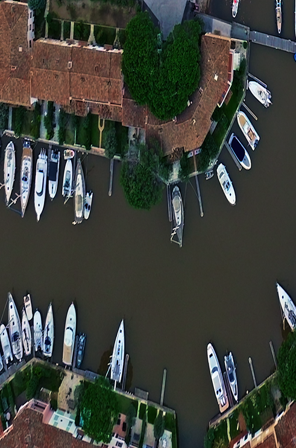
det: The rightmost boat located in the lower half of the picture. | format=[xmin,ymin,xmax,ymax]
[277,283,296,330]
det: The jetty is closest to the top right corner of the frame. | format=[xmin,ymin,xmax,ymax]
[249,28,296,53]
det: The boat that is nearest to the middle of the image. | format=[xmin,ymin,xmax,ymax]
[168,184,185,248]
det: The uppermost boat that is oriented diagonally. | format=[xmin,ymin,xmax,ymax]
[249,79,271,111]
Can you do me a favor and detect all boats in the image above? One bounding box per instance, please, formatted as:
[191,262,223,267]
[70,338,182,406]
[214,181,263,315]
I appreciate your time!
[237,112,260,154]
[208,343,228,412]
[105,320,127,382]
[62,302,77,369]
[249,79,271,111]
[0,140,17,206]
[275,0,282,34]
[33,303,55,356]
[25,291,32,320]
[0,292,24,361]
[62,161,72,201]
[59,158,85,224]
[225,347,237,403]
[34,310,43,354]
[233,0,238,18]
[77,330,86,367]
[277,283,296,330]
[10,309,32,355]
[1,324,14,368]
[33,149,50,223]
[64,147,75,164]
[49,147,61,201]
[85,188,93,219]
[216,158,234,206]
[168,184,185,248]
[0,141,33,218]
